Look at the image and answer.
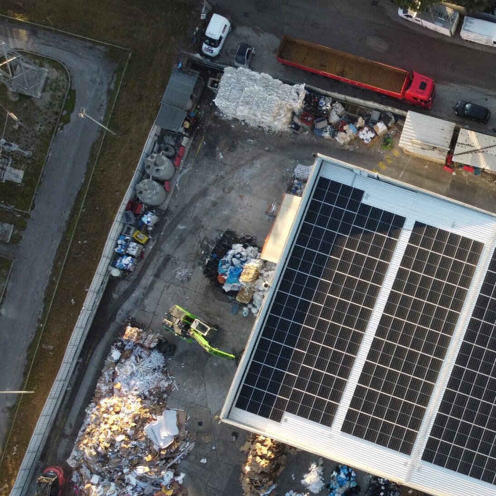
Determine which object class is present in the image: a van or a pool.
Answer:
van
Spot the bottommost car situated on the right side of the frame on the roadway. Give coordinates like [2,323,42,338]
[453,101,493,125]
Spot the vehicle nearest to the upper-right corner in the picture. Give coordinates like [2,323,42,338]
[460,15,496,50]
